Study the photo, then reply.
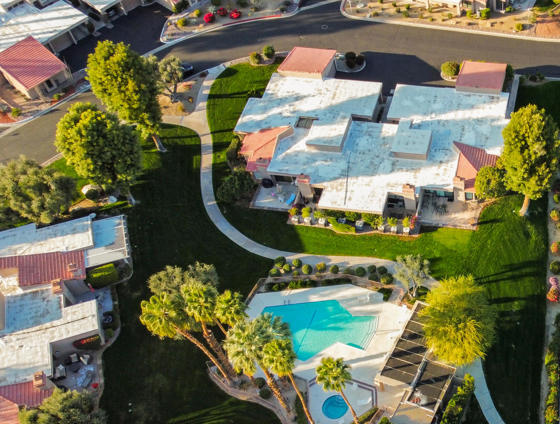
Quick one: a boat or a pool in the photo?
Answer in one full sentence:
There is a pool in the scene.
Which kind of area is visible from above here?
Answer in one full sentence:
The picture captures a residential area.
